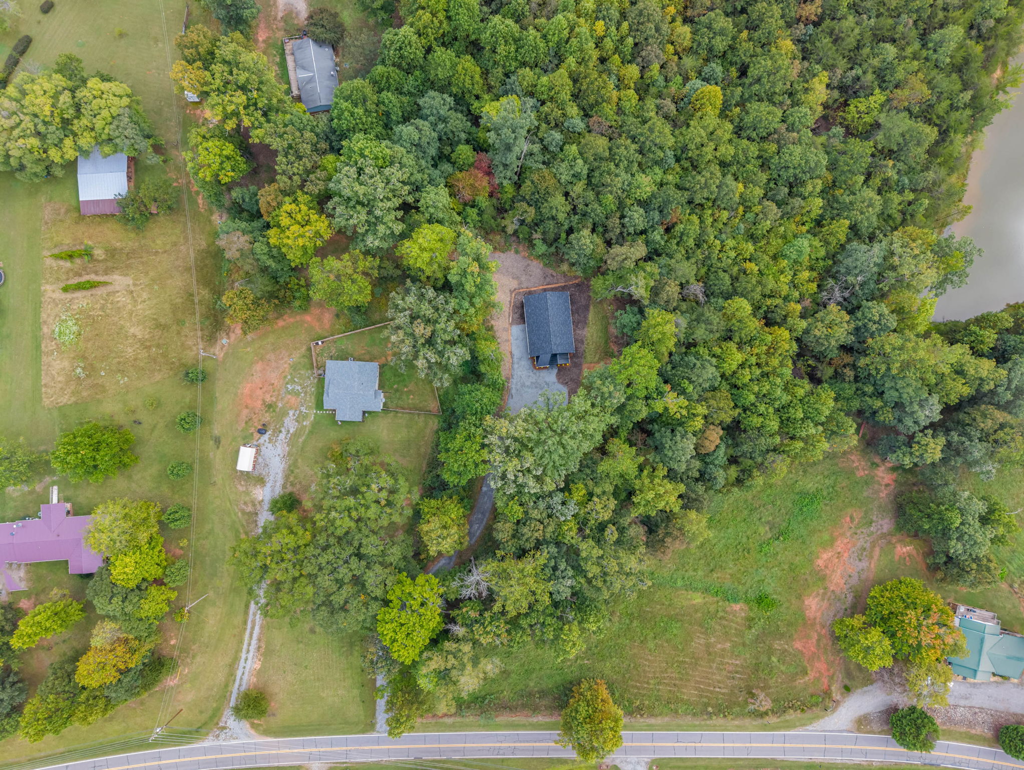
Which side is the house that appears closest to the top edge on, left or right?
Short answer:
left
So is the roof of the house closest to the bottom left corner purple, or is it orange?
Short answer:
purple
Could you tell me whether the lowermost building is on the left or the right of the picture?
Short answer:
right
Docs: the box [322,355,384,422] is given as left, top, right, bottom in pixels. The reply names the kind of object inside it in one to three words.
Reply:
house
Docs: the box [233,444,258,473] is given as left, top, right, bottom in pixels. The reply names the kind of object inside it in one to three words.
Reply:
shed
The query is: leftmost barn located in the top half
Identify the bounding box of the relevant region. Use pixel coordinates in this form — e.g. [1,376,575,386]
[76,152,136,216]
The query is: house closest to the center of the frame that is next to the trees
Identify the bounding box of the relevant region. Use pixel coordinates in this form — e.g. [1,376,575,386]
[523,291,575,368]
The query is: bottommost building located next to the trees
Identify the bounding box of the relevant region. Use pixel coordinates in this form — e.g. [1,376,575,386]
[944,602,1024,683]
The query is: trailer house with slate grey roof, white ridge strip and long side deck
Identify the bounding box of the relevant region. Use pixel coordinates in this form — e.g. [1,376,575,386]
[282,34,341,113]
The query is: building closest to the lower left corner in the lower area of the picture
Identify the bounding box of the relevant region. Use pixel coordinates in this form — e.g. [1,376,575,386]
[0,502,108,592]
